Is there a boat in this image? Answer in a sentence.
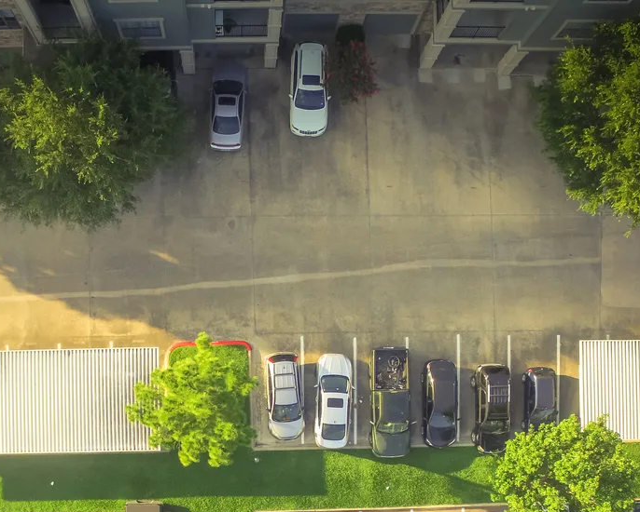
No, the photo shows no boat.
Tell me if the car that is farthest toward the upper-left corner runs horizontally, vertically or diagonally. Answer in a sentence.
The car that is farthest toward the upper-left corner runs vertically in the image.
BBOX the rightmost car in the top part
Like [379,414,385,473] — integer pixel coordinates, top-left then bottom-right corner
[288,42,332,139]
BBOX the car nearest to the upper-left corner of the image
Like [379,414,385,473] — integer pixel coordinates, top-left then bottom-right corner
[207,62,248,154]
